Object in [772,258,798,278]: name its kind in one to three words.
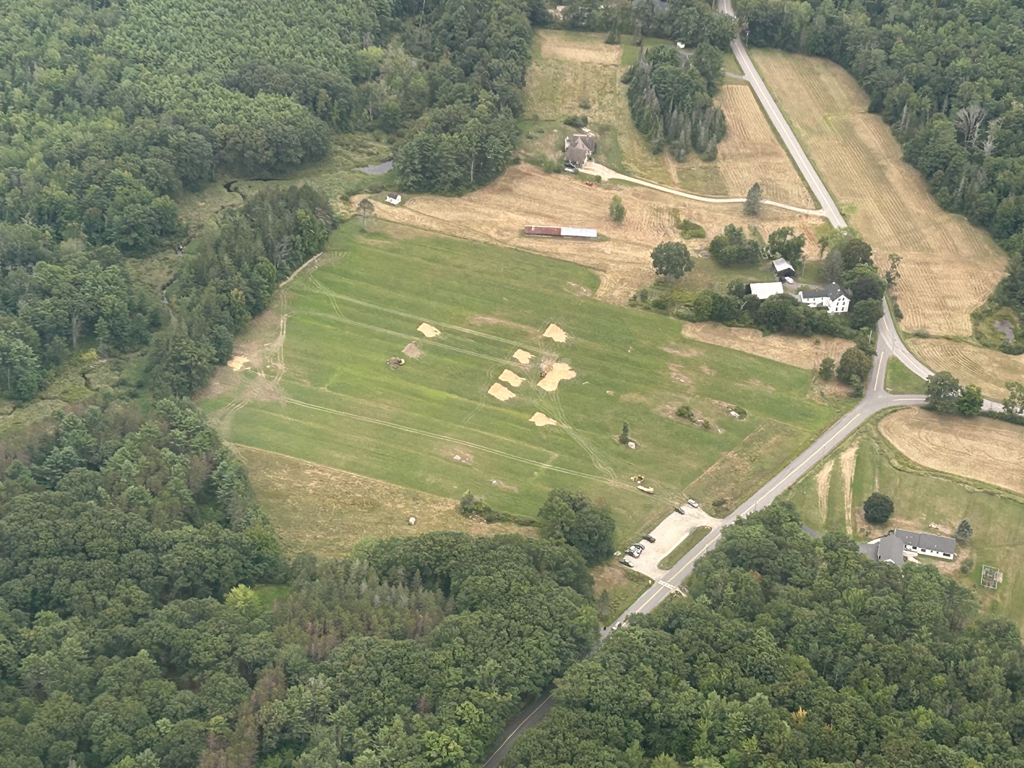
barn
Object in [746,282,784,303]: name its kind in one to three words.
barn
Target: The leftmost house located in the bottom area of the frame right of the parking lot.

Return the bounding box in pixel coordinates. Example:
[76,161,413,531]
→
[874,527,955,559]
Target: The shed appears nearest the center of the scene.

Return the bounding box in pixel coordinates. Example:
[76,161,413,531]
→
[525,225,597,239]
